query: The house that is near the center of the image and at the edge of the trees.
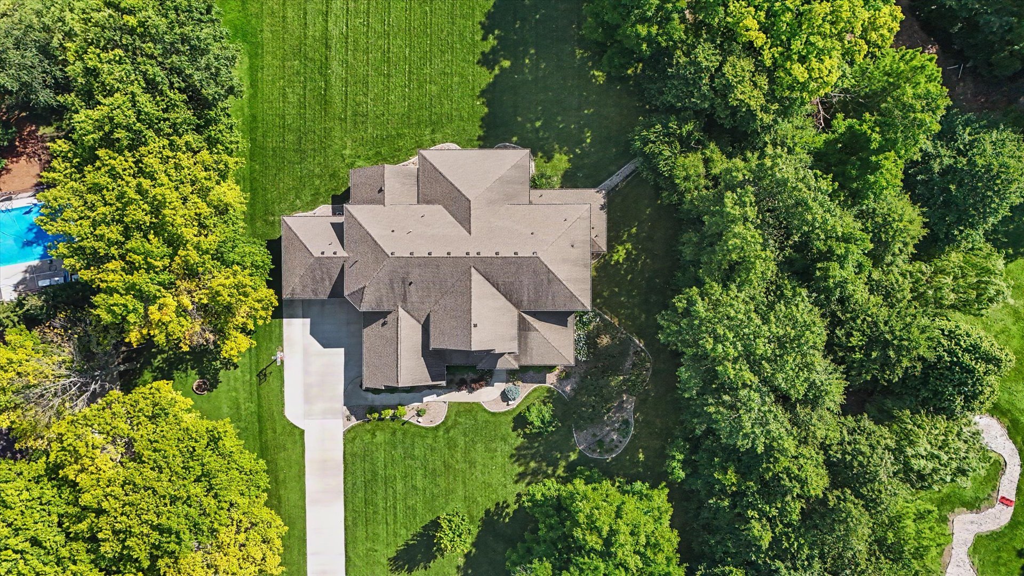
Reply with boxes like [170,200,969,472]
[280,148,609,390]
